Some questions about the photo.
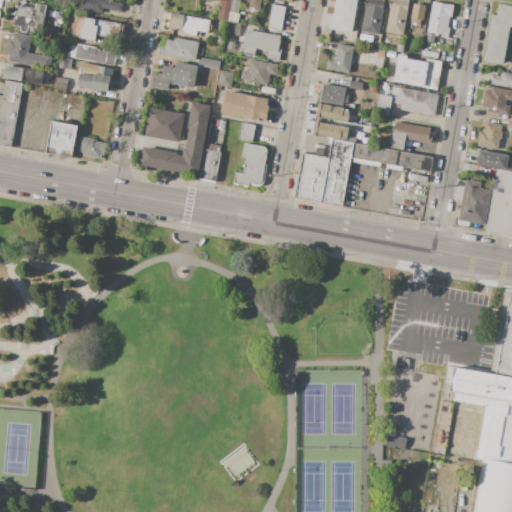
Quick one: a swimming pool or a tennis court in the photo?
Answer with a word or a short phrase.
tennis court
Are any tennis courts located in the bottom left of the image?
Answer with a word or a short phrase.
Yes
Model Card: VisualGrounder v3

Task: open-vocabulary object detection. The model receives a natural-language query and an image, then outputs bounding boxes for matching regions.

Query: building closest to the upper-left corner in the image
[14,3,48,34]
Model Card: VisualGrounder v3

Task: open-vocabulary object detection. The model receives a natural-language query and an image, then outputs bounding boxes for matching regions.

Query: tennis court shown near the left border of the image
[0,407,42,488]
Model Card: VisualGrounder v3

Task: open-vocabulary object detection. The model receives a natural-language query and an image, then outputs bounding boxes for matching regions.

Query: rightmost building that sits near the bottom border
[452,367,512,512]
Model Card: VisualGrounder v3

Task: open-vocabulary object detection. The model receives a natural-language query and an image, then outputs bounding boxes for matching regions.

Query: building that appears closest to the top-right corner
[483,4,512,65]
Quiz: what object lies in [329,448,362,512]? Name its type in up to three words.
tennis court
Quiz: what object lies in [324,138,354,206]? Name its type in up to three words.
building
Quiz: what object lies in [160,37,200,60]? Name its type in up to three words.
house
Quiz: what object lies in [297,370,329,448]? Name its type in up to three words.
tennis court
